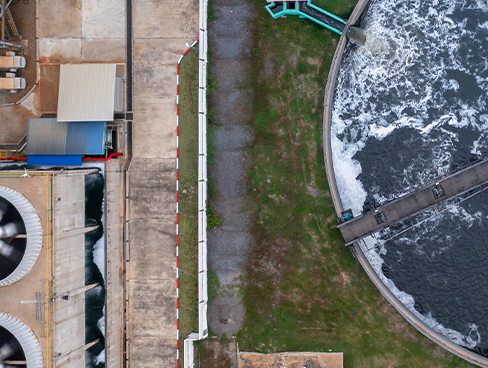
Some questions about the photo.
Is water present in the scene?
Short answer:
Yes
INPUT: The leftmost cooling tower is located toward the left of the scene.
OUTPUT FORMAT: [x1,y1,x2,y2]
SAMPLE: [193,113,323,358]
[0,168,99,368]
